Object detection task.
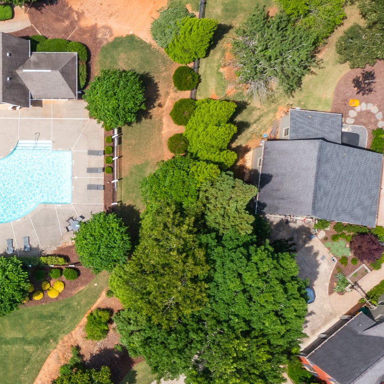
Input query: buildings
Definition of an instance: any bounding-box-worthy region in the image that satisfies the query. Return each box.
[0,32,79,113]
[298,299,384,384]
[247,109,384,228]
